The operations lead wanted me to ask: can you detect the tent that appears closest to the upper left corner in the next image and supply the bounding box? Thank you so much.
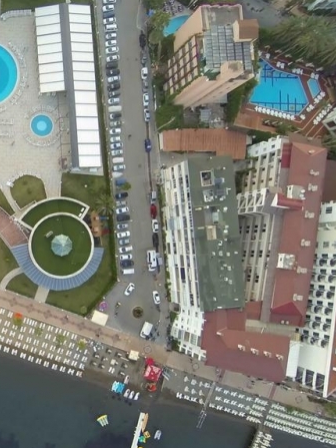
[32,5,66,93]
